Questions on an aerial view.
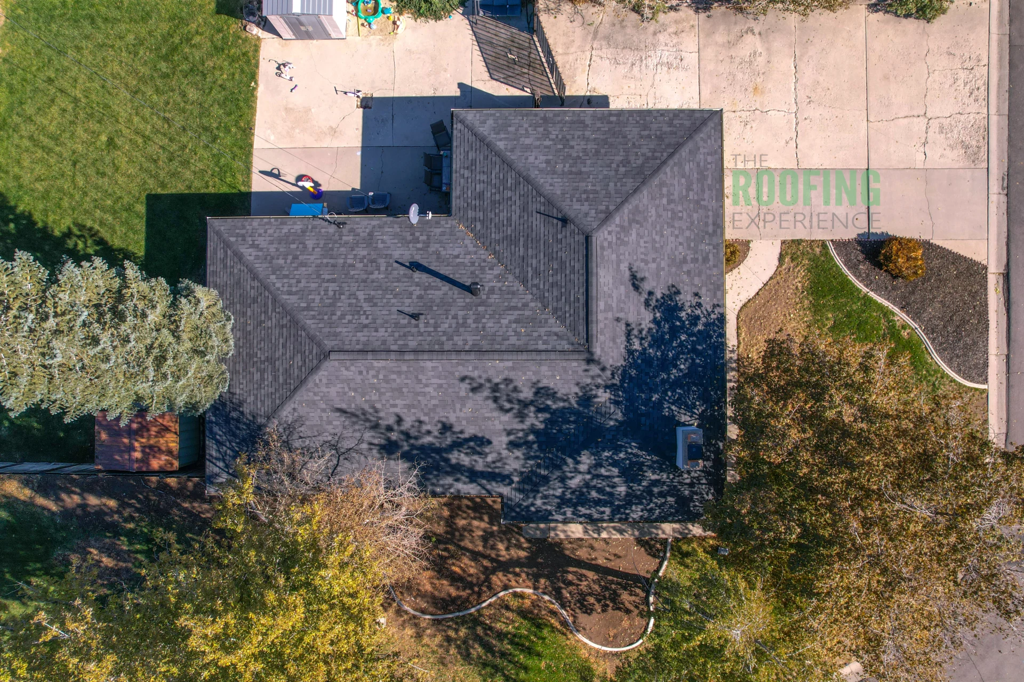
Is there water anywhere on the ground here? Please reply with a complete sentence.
No, no water is visible.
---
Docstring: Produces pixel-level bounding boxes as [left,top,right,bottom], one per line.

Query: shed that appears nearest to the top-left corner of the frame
[263,0,347,39]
